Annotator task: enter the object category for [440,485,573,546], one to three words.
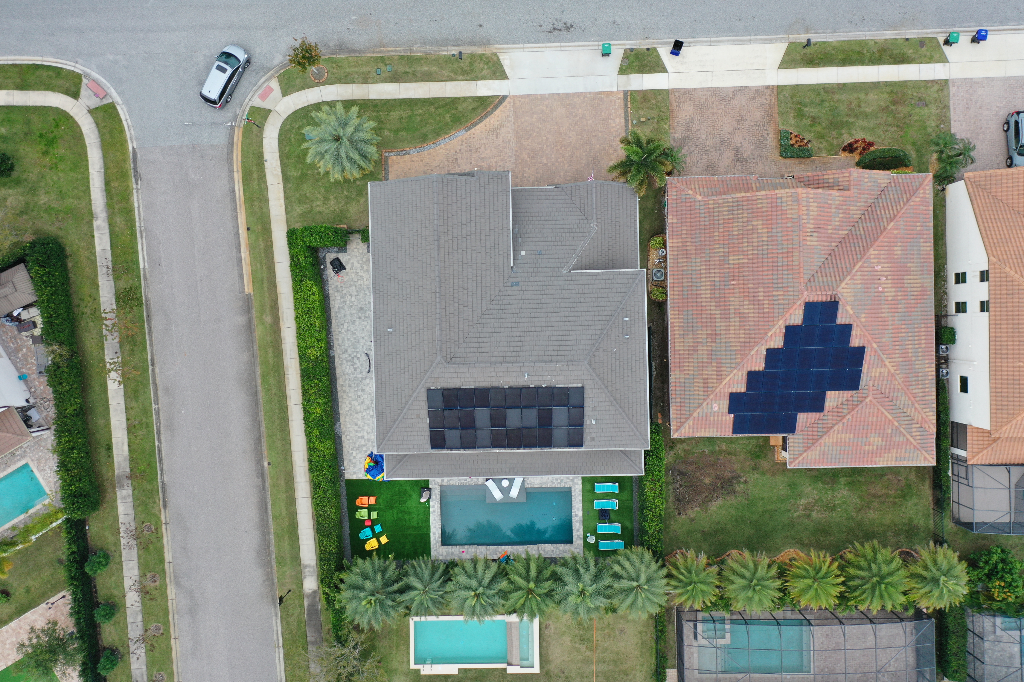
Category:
swimming pool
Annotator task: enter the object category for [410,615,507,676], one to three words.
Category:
swimming pool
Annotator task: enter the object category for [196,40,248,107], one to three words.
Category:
car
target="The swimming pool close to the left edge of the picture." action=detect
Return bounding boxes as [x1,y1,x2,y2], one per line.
[0,457,52,531]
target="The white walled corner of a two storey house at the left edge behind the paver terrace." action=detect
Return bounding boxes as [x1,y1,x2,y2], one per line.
[0,346,35,413]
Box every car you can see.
[1006,111,1024,169]
[196,40,248,107]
